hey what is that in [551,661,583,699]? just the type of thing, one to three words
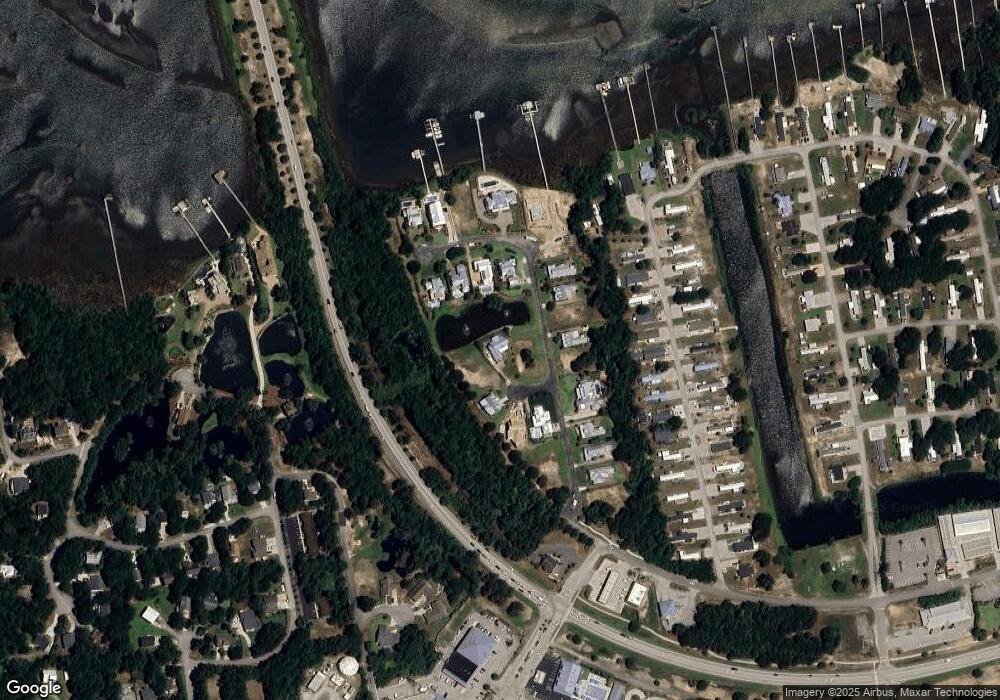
building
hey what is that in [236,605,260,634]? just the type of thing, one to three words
house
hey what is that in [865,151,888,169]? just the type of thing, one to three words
house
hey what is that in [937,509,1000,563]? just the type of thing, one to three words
building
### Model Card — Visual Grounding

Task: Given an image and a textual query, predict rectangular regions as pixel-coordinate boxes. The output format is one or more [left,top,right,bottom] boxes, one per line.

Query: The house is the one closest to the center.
[485,334,510,358]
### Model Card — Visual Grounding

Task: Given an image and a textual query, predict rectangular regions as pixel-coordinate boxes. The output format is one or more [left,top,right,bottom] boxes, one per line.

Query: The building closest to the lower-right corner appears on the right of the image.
[919,598,975,633]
